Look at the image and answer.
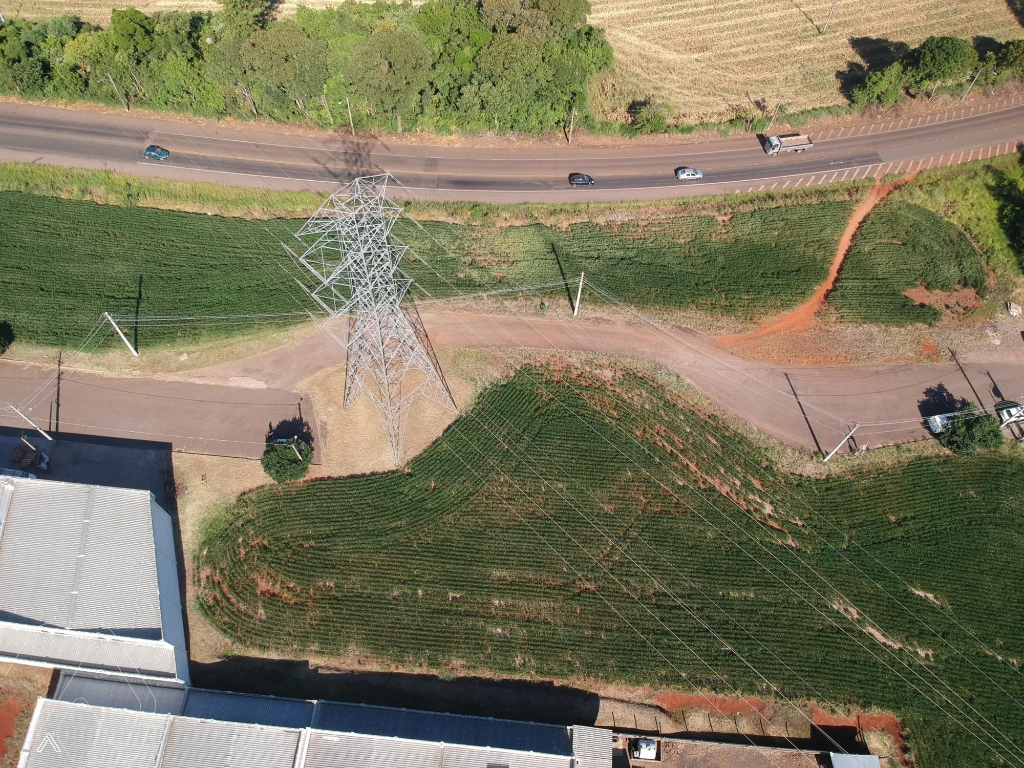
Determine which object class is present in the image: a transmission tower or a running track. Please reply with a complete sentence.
The image shows a transmission tower.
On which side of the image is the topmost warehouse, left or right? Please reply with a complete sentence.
You can find the topmost warehouse on the left side of the picture.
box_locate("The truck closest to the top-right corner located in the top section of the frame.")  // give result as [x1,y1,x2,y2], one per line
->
[767,134,817,155]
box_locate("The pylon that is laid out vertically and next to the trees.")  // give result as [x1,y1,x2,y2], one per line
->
[280,163,462,467]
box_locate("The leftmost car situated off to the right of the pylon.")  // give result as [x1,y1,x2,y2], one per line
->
[569,174,596,187]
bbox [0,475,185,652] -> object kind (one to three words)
warehouse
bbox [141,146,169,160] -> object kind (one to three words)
car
